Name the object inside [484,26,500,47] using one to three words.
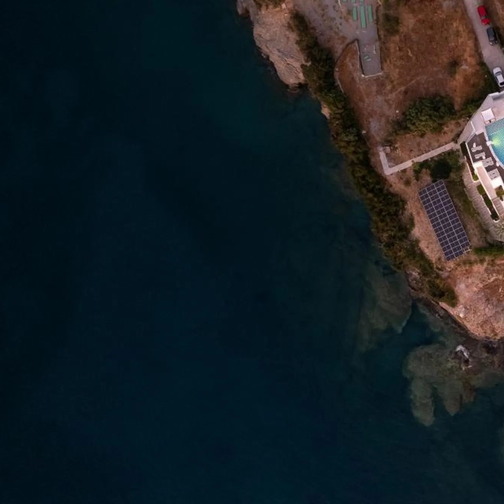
car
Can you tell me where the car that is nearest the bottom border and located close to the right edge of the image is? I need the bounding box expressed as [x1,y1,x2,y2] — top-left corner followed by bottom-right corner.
[492,66,504,88]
